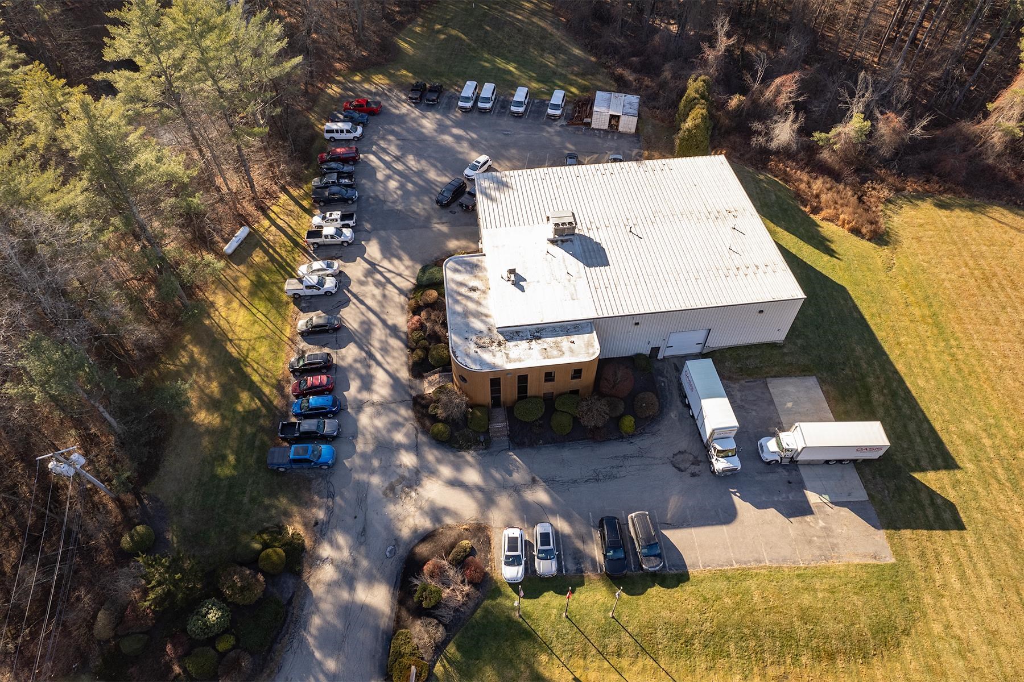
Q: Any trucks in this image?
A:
Yes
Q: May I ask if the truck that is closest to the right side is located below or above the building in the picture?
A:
below it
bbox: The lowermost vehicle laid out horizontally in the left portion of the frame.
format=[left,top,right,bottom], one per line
[265,442,338,472]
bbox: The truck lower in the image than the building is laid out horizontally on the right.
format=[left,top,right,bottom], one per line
[757,421,890,464]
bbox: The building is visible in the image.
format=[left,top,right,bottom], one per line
[442,154,806,412]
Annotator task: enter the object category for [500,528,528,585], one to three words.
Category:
car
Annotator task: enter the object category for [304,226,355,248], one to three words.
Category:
truck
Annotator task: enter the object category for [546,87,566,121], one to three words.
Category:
vehicle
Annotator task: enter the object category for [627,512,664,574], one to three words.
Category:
car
